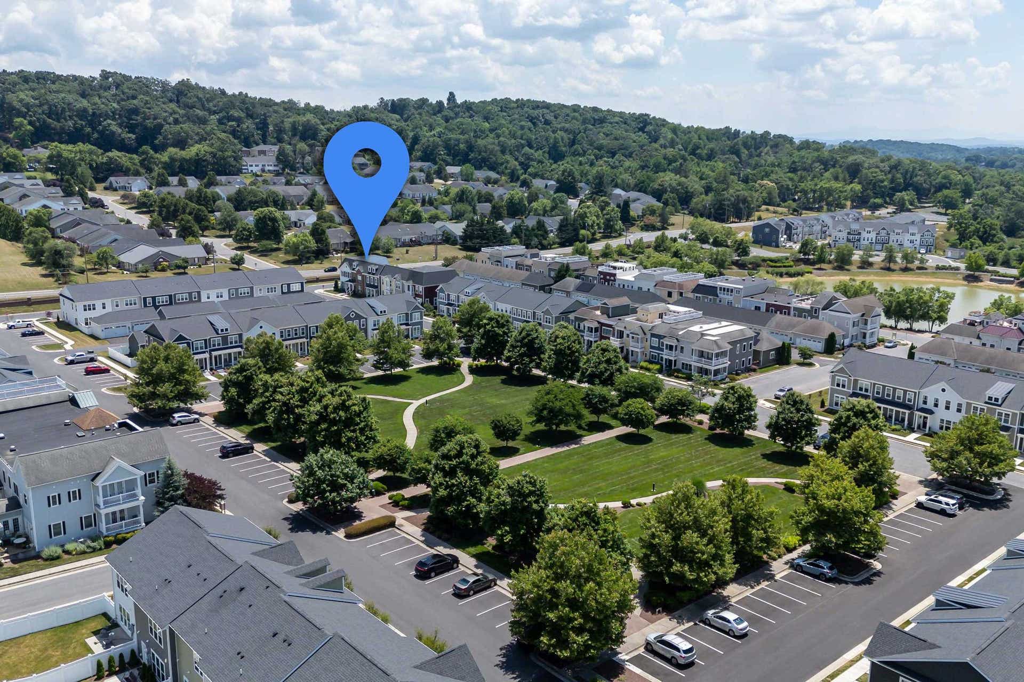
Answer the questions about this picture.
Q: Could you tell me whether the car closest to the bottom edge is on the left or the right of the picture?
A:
right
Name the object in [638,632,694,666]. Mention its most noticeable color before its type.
gray car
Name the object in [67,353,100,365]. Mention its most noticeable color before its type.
gray vehicle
